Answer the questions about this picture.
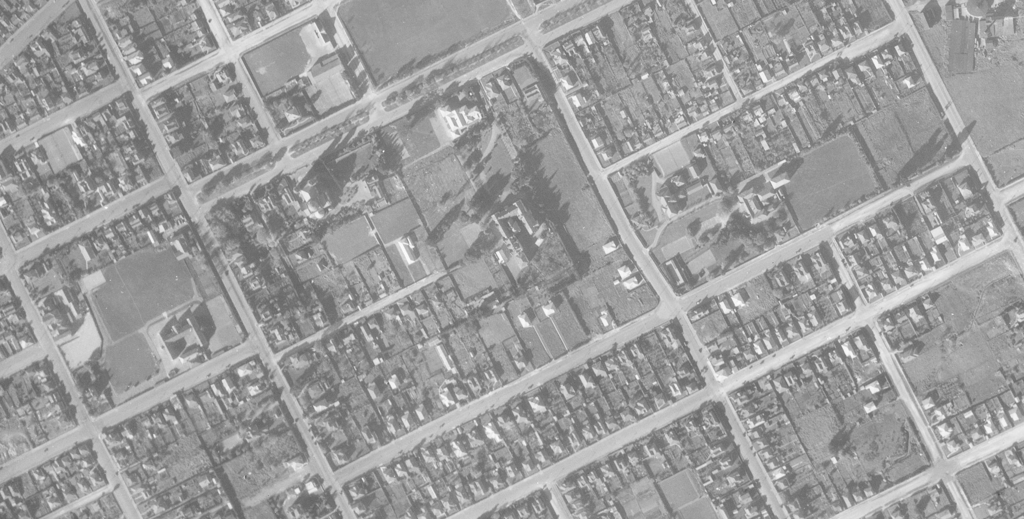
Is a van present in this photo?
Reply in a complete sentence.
No, no van is visible in the scene.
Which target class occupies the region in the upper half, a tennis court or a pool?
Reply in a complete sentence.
Looking in the upper half, you will find a tennis court.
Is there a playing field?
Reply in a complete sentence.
Yes, there's a playing field down there.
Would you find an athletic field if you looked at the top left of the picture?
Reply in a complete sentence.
Yes, an athletic field is visible at the top left of the picture.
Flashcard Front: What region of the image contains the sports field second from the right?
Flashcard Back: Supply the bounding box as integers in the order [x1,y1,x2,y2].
[338,0,516,84]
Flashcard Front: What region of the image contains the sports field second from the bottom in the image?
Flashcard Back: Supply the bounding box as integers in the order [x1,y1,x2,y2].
[92,245,202,341]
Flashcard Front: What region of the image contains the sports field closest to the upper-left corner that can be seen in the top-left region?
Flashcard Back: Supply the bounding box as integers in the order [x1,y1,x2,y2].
[242,30,310,96]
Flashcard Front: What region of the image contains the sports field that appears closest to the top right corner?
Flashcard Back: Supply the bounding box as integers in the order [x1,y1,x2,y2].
[788,134,881,231]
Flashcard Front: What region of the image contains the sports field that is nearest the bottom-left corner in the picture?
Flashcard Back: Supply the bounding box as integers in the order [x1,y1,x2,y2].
[106,336,157,395]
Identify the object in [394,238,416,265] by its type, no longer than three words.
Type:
building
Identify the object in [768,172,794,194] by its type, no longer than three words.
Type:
building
